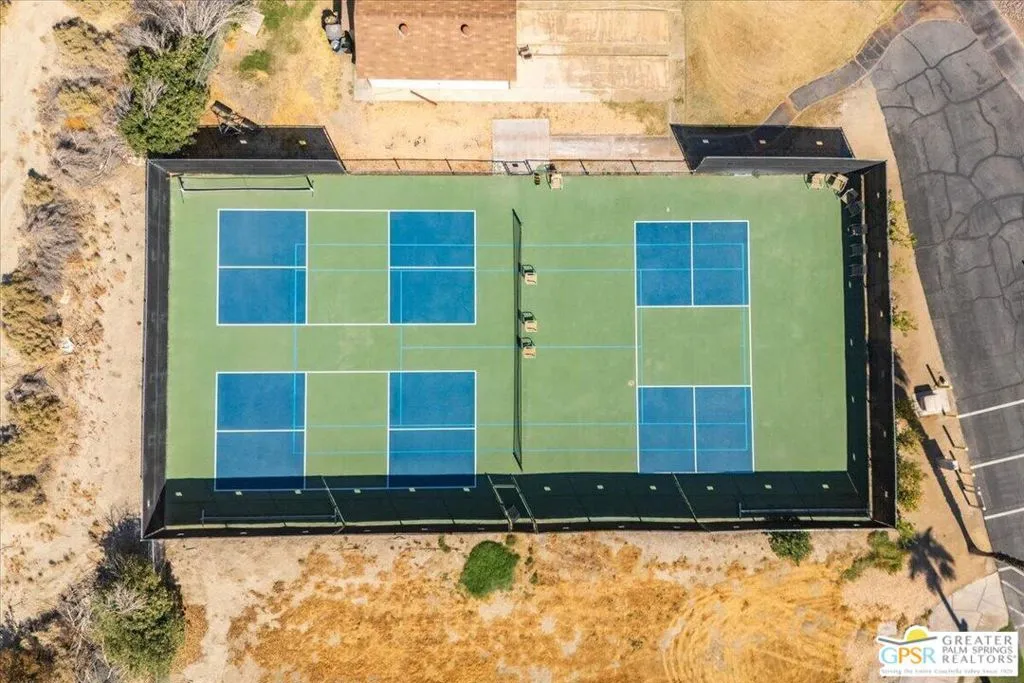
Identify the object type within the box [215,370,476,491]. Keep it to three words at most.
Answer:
sports court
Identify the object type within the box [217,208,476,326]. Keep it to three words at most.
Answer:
sports court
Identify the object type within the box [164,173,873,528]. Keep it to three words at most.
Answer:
tennis court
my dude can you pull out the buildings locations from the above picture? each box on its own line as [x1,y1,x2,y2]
[353,0,518,91]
